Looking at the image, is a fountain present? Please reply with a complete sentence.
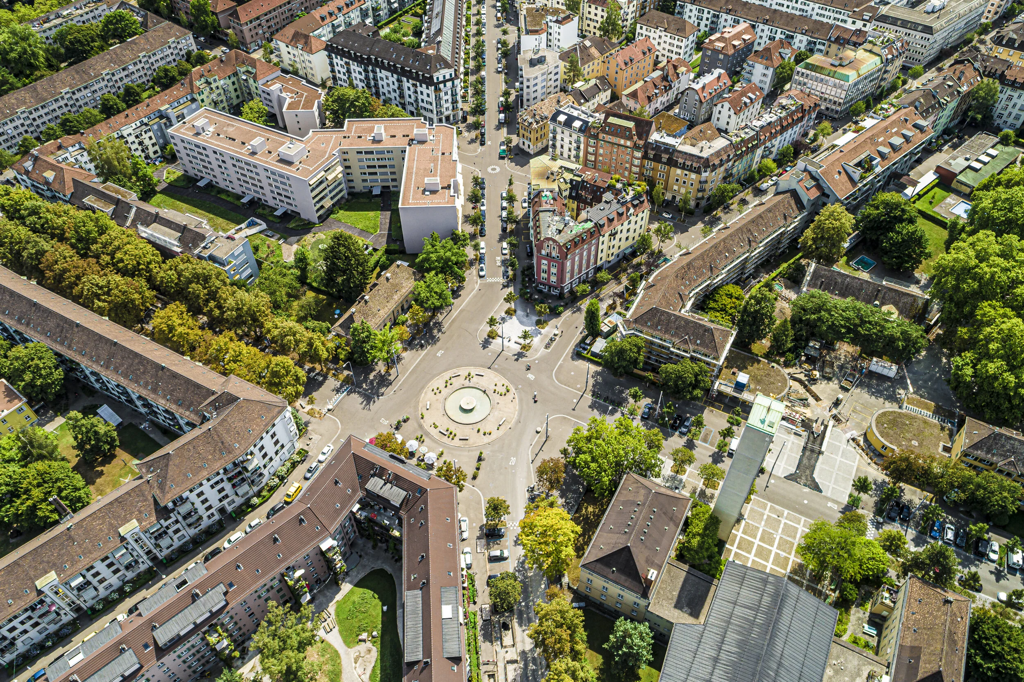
Yes, this view includes a fountain.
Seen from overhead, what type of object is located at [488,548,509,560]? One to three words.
vehicle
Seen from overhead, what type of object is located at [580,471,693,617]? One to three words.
house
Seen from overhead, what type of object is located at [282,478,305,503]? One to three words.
vehicle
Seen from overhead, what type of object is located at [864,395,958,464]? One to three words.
building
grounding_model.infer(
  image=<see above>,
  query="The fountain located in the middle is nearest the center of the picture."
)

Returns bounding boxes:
[440,383,496,428]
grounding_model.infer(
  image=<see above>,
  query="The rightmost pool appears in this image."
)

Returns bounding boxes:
[950,199,972,218]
